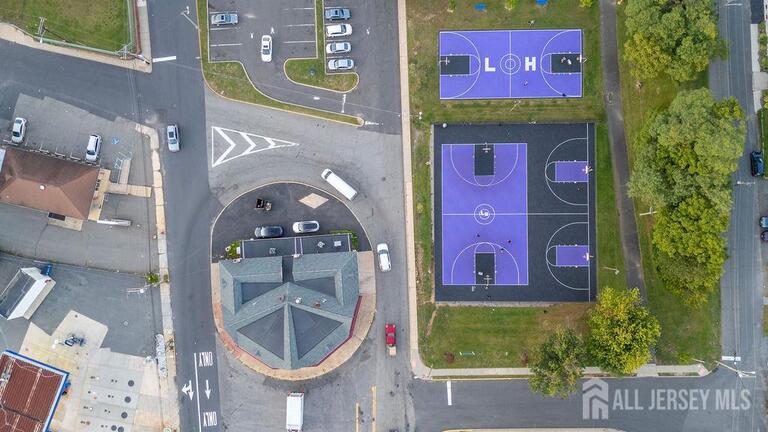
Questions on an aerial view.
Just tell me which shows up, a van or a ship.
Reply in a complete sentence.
There is a van in the scene.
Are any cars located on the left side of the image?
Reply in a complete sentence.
Yes, you'll find a car on the left side of the image.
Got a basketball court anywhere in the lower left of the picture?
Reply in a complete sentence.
No, no basketball court can be made out in the lower left of the picture.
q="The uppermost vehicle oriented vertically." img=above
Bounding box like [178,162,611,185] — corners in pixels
[260,35,272,62]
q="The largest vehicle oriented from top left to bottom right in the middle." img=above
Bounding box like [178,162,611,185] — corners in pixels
[322,169,358,201]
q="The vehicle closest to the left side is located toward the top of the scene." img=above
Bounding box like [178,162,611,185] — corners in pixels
[12,117,29,144]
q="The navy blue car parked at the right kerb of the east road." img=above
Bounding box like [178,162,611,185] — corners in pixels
[748,149,764,176]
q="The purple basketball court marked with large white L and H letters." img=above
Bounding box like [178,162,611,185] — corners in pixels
[439,28,584,100]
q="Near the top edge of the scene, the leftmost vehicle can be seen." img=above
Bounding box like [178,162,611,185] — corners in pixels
[212,12,239,26]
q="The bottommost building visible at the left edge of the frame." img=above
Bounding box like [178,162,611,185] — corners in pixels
[0,267,56,320]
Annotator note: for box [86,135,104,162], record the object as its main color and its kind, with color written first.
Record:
white car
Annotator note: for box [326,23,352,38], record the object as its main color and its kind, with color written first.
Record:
white car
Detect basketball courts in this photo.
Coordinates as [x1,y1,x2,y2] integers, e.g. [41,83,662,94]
[439,28,584,100]
[545,214,590,301]
[434,122,596,302]
[545,123,589,214]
